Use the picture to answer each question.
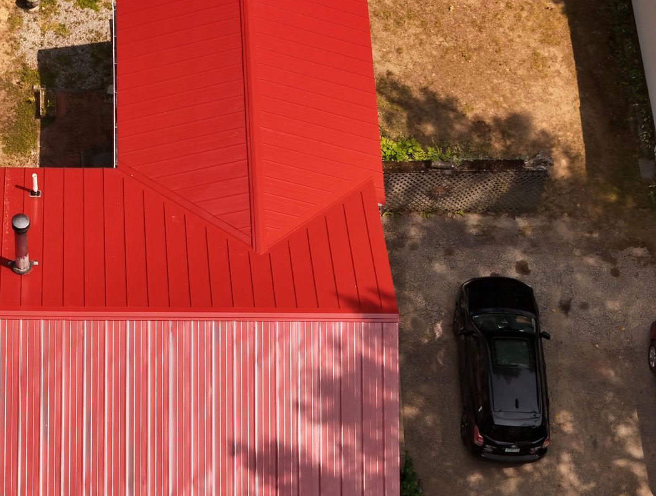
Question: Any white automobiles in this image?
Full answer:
No, I can see no white automobile in this picture.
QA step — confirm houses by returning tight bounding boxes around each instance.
[634,0,656,188]
[0,0,401,496]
